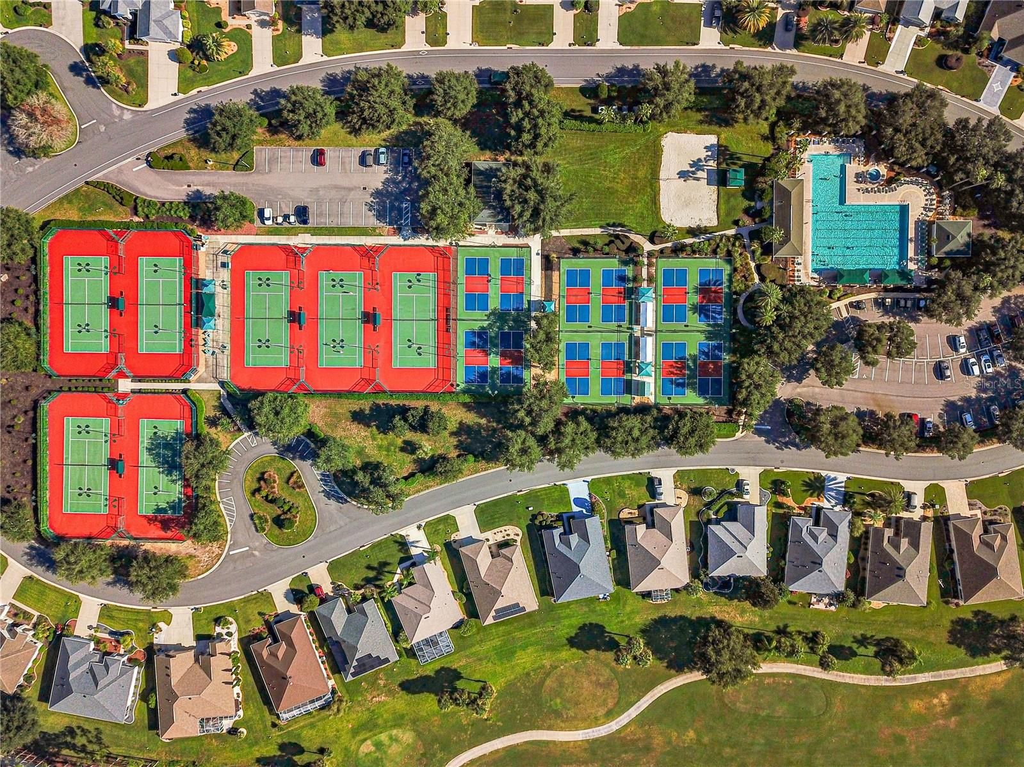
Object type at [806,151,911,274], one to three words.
swimming pool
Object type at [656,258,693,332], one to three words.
sports court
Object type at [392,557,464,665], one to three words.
house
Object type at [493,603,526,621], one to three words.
solar panel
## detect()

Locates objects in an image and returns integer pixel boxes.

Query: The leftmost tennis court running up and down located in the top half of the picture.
[48,230,122,377]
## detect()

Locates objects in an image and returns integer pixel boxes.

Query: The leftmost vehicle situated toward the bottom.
[313,581,326,601]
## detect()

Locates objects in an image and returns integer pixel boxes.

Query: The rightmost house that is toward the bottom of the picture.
[948,517,1023,605]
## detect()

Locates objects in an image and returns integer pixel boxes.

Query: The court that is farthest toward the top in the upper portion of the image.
[655,132,726,227]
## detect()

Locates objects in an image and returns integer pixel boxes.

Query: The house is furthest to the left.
[0,627,44,695]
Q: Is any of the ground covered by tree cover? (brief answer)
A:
Yes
